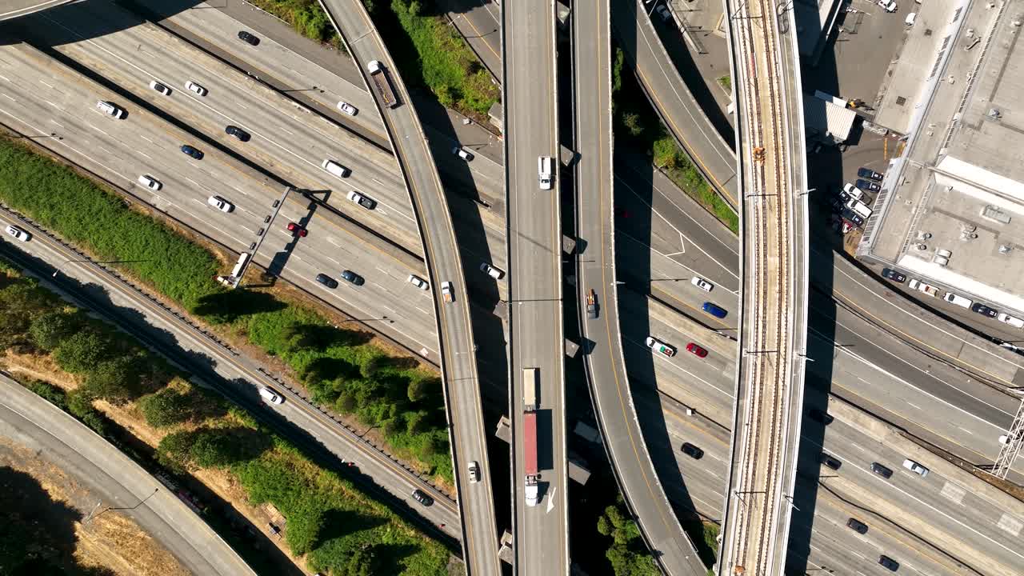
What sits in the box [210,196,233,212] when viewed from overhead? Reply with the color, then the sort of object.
white car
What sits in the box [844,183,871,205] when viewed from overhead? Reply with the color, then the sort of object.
white truck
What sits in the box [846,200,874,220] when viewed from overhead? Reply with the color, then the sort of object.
white vehicle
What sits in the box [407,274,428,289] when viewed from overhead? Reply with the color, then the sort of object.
white car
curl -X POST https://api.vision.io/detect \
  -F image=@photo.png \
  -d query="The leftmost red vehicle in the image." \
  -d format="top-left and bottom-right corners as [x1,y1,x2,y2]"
[286,222,308,238]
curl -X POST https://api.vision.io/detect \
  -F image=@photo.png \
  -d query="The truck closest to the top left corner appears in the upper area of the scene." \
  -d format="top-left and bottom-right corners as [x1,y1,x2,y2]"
[95,99,124,120]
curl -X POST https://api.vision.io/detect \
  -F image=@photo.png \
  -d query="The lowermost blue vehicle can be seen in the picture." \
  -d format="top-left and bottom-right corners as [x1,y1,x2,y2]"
[703,301,725,318]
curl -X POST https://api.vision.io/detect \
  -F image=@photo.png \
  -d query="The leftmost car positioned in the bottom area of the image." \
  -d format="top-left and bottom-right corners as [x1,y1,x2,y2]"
[259,387,282,403]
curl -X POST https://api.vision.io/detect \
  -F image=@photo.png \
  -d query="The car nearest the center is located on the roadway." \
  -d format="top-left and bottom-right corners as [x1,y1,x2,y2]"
[480,263,502,280]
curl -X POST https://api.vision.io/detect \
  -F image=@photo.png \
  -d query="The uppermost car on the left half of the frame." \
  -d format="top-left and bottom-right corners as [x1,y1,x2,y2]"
[239,30,260,46]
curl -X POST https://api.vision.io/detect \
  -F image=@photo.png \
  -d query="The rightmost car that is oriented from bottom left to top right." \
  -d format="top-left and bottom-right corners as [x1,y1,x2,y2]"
[836,219,854,236]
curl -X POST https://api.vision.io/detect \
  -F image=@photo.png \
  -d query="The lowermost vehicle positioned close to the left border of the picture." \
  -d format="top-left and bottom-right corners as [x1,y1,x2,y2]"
[5,224,30,241]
